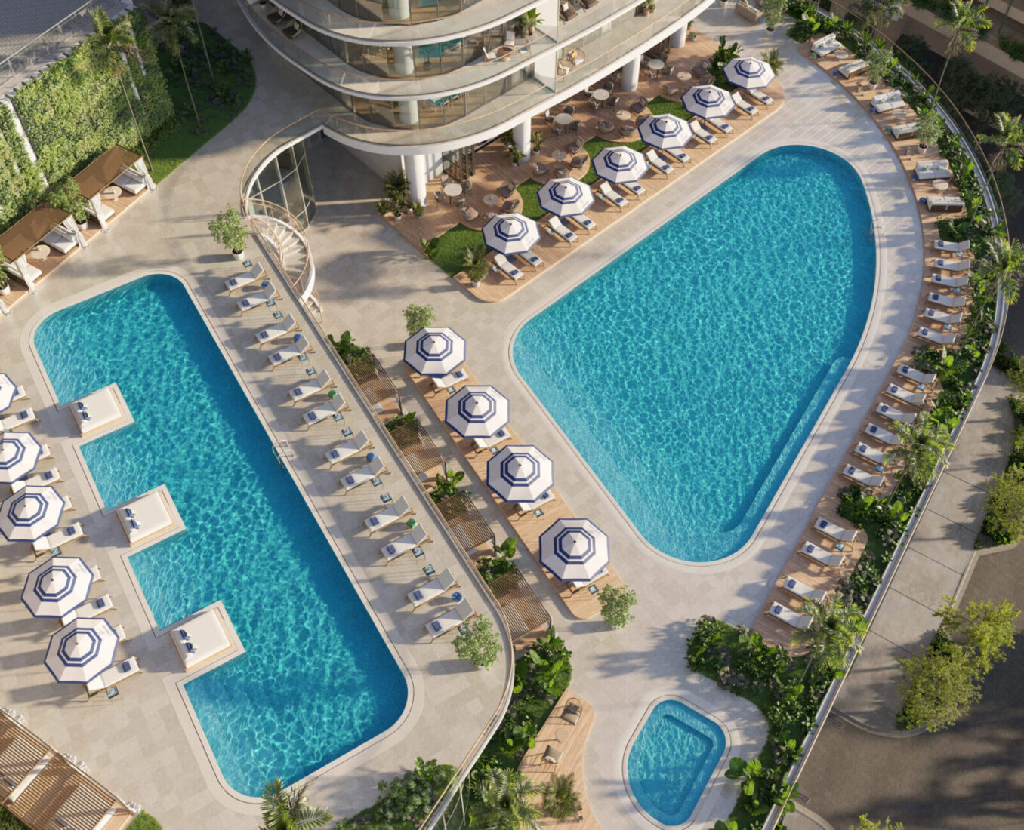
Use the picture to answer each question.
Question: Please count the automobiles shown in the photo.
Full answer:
There are no automobiles in the image.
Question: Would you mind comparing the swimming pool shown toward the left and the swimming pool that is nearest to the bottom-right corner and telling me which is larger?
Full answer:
The swimming pool shown toward the left is bigger than the swimming pool that is nearest to the bottom-right corner.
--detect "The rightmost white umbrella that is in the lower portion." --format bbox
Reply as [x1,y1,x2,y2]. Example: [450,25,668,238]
[540,518,609,580]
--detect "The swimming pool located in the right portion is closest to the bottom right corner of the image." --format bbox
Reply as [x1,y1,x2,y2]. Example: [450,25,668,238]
[628,701,726,826]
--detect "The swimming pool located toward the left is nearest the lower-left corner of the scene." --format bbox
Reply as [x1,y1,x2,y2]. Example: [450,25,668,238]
[35,275,408,797]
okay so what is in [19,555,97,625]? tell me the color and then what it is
white umbrella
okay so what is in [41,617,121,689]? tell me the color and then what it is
white umbrella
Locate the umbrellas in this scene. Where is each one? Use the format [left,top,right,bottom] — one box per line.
[444,384,507,441]
[592,144,647,194]
[482,211,539,267]
[536,175,594,229]
[405,325,466,382]
[636,111,691,162]
[0,482,69,545]
[681,82,735,131]
[19,555,97,625]
[540,518,609,580]
[723,54,776,98]
[0,430,46,492]
[41,617,121,689]
[488,444,553,503]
